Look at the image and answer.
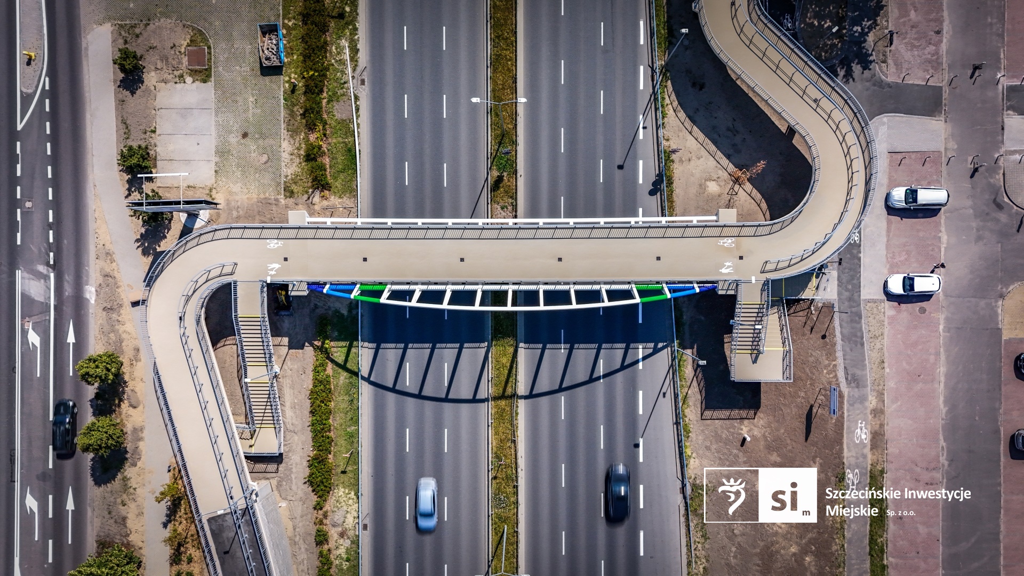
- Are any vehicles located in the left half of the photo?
Yes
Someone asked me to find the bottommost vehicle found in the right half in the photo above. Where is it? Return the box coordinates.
[605,466,632,522]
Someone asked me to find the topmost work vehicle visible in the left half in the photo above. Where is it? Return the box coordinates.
[268,281,293,317]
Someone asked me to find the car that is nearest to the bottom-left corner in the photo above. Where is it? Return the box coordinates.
[48,403,80,457]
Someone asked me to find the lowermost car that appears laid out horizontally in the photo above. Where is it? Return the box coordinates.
[885,271,939,297]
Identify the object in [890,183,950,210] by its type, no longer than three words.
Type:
car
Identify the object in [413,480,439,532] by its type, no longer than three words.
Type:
car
